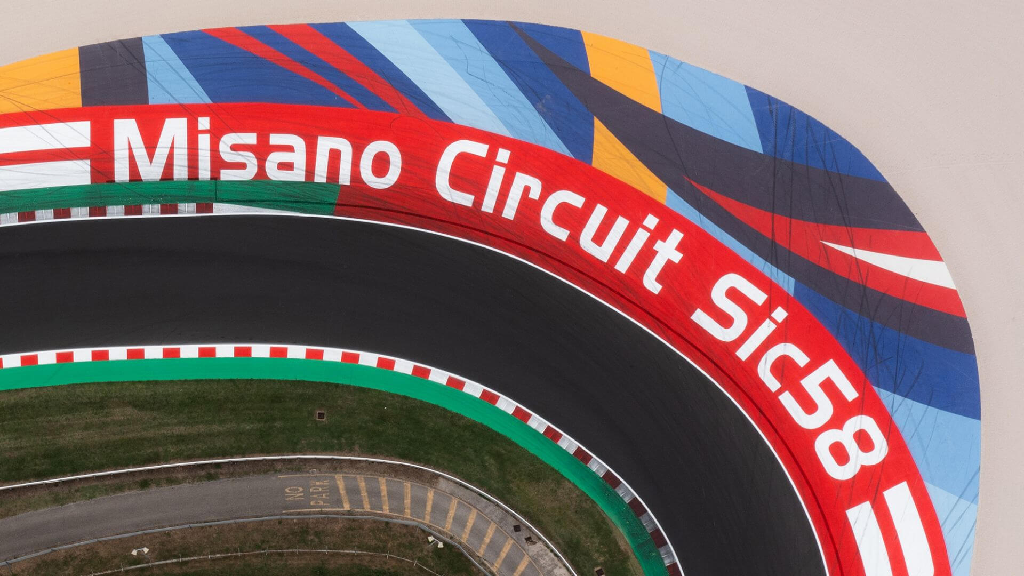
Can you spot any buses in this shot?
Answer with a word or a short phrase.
No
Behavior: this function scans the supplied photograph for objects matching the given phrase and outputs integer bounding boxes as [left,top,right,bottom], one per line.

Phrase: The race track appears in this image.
[0,213,830,576]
